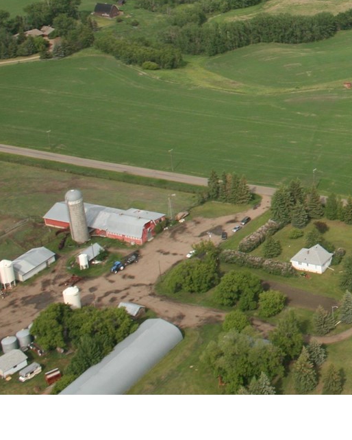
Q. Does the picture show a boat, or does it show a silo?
silo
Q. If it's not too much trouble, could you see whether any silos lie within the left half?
Yes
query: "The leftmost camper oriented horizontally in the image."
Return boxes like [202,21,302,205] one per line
[17,363,41,377]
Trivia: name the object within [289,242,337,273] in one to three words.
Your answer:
house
